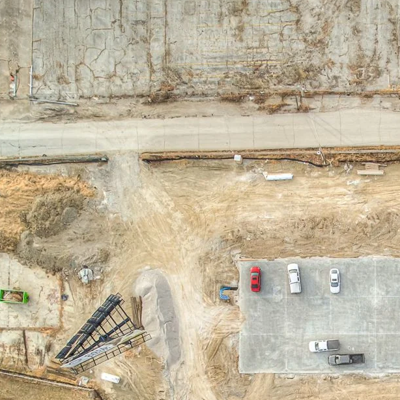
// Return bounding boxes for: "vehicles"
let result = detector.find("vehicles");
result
[328,352,364,366]
[307,339,341,352]
[246,267,260,293]
[286,261,301,295]
[328,268,341,294]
